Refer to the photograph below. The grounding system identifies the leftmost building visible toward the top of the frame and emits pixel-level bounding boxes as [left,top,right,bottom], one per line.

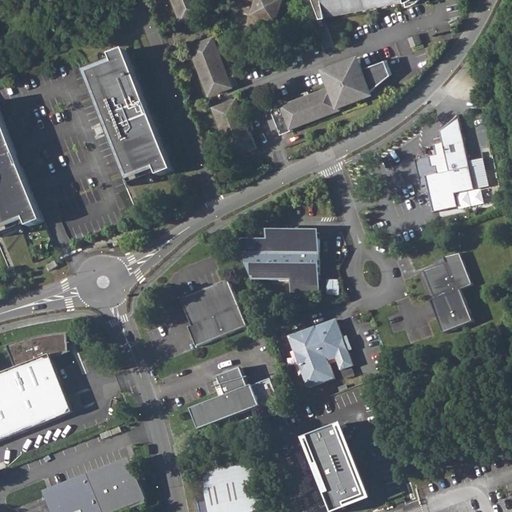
[0,120,47,235]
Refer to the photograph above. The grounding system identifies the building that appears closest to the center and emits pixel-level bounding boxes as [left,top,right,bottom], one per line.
[240,228,324,294]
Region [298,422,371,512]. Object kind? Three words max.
building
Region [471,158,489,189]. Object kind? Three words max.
shed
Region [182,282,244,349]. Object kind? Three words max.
building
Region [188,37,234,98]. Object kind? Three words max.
house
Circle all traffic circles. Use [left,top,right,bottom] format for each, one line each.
[74,253,132,311]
